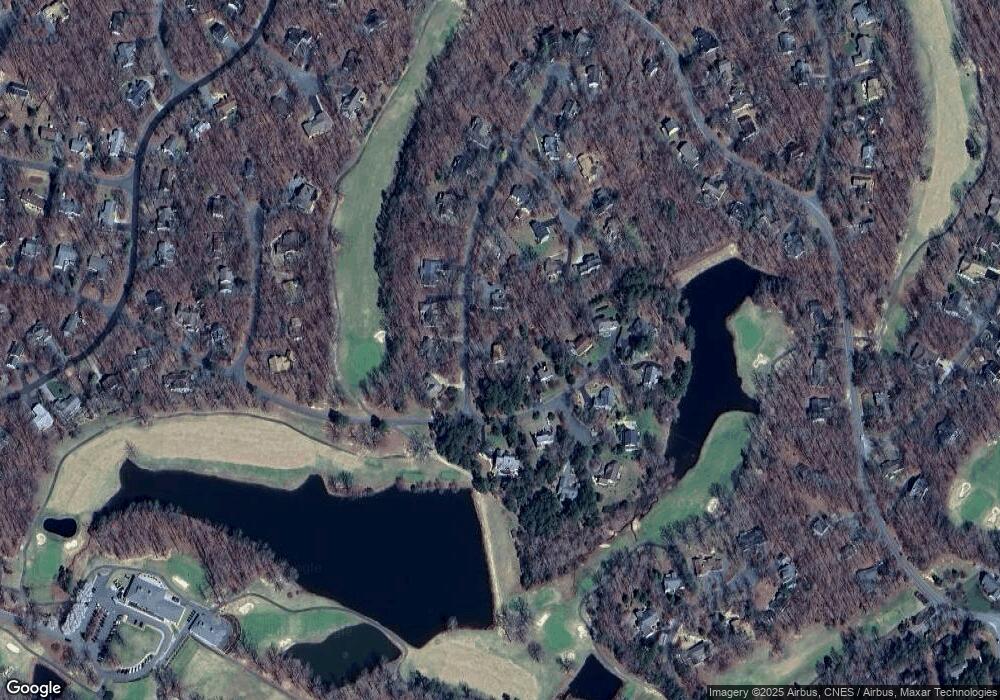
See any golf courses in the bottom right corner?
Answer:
Yes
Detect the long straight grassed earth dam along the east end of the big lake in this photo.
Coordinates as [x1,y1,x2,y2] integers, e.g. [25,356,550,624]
[474,486,521,623]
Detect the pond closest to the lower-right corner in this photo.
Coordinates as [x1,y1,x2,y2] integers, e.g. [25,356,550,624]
[561,659,620,700]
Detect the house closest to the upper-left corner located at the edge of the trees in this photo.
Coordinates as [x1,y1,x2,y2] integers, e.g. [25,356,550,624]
[40,2,67,25]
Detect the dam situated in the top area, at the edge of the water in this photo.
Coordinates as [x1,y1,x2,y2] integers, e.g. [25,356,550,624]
[678,246,742,291]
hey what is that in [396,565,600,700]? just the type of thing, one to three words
golf course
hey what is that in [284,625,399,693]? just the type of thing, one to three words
pond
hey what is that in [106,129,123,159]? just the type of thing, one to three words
house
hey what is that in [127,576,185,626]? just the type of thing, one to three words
building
